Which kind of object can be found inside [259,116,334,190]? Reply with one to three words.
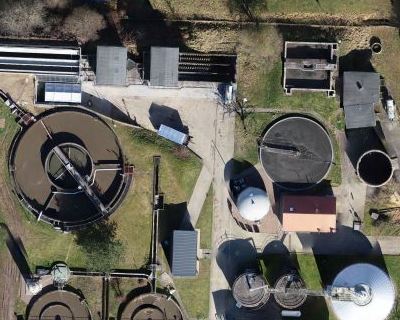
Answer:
storage tank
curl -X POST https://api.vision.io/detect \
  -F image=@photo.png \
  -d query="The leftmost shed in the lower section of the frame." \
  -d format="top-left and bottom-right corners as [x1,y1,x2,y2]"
[172,229,200,276]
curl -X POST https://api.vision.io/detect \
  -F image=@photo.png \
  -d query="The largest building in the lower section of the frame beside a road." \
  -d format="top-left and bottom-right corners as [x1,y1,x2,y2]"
[283,194,336,233]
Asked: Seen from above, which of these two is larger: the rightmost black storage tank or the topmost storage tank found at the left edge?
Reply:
the topmost storage tank found at the left edge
